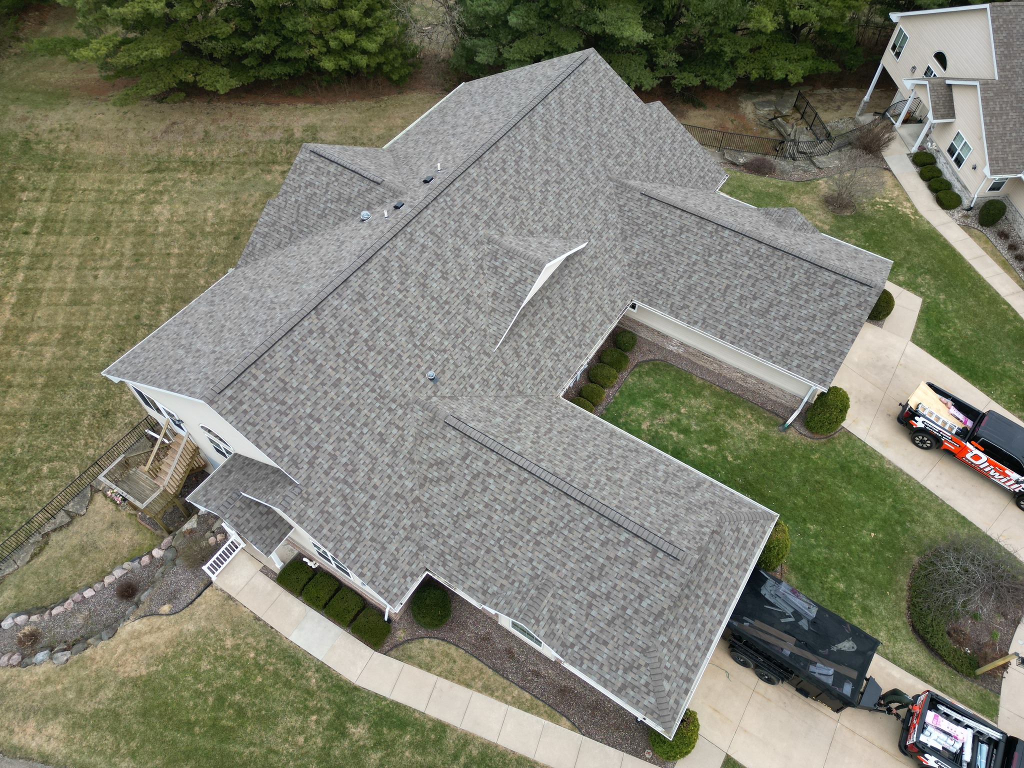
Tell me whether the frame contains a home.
Yes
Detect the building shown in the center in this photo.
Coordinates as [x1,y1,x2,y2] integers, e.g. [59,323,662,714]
[101,49,894,741]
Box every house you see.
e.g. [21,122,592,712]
[856,3,1024,247]
[101,49,894,741]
